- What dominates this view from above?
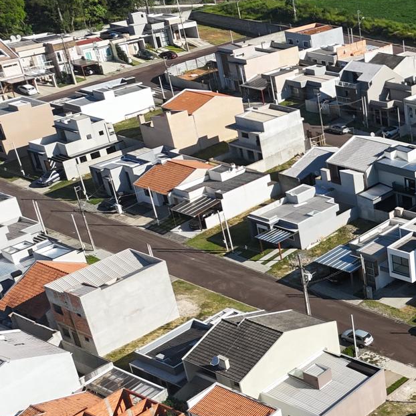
buildings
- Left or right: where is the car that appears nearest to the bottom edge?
right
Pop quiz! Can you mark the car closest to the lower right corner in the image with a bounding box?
[343,324,374,345]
